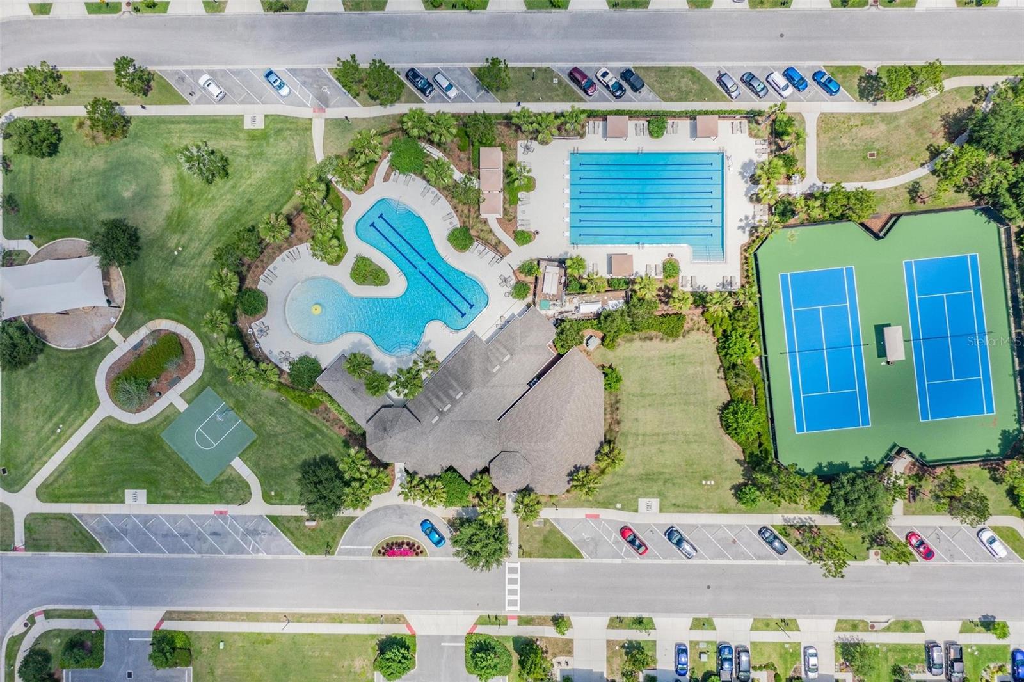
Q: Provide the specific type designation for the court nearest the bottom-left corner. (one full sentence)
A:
The court nearest the bottom-left corner in the image is a basketball court.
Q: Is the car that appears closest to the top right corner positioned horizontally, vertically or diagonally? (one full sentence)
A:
The car that appears closest to the top right corner has been laid out diagonally relative to the frame.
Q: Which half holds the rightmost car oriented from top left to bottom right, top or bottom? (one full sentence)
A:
Seen from above, the rightmost car oriented from top left to bottom right lies in the bottom half of the view.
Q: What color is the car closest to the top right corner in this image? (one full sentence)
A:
In this view, the car closest to the top right corner is blue.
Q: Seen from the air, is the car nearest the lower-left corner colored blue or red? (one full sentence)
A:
From above, the car nearest the lower-left corner appears blue.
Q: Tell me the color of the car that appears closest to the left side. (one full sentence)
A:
From above, the car that appears closest to the left side appears white.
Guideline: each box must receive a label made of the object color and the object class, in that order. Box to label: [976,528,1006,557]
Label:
white car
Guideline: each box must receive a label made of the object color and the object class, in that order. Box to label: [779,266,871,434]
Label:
blue tennis court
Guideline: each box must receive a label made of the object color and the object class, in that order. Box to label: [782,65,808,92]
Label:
blue car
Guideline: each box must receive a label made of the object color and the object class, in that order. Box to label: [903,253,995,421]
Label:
blue tennis court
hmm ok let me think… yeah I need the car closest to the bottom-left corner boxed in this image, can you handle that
[420,518,446,549]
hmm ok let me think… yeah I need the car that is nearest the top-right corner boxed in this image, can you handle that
[811,69,841,97]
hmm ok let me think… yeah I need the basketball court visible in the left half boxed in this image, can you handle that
[160,387,256,483]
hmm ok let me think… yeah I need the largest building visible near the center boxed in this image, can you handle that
[316,306,604,495]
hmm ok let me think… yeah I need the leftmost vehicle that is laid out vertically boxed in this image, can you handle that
[674,643,689,675]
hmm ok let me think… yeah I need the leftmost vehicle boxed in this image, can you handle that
[197,72,228,103]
